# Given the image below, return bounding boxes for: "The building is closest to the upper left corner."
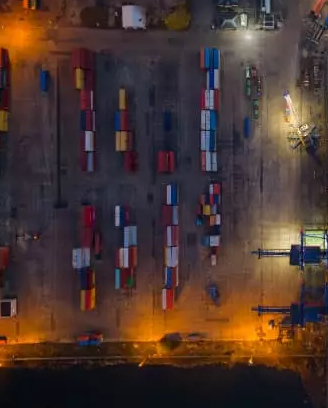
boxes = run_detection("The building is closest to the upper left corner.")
[122,3,147,28]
